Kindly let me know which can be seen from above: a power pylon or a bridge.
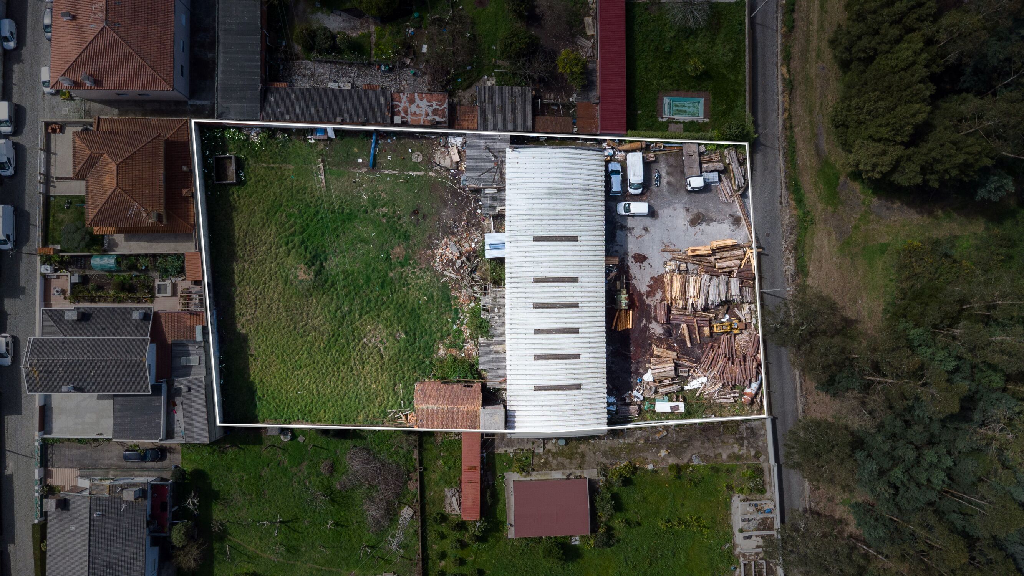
power pylon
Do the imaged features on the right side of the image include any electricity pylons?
No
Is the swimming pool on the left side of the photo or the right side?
right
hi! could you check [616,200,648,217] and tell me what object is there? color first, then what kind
white vehicle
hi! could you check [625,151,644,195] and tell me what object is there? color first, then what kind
white vehicle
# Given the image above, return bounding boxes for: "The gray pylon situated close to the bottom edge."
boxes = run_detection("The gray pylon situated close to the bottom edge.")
[375,501,417,557]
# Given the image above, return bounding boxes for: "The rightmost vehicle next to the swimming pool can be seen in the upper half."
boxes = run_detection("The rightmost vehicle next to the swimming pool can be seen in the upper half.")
[682,139,706,193]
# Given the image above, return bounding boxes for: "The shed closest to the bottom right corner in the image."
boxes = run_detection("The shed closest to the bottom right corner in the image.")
[513,475,590,538]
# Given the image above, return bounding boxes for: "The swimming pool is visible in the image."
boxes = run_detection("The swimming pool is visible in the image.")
[662,96,704,119]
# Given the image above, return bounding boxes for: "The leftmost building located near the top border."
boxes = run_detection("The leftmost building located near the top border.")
[49,0,191,99]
